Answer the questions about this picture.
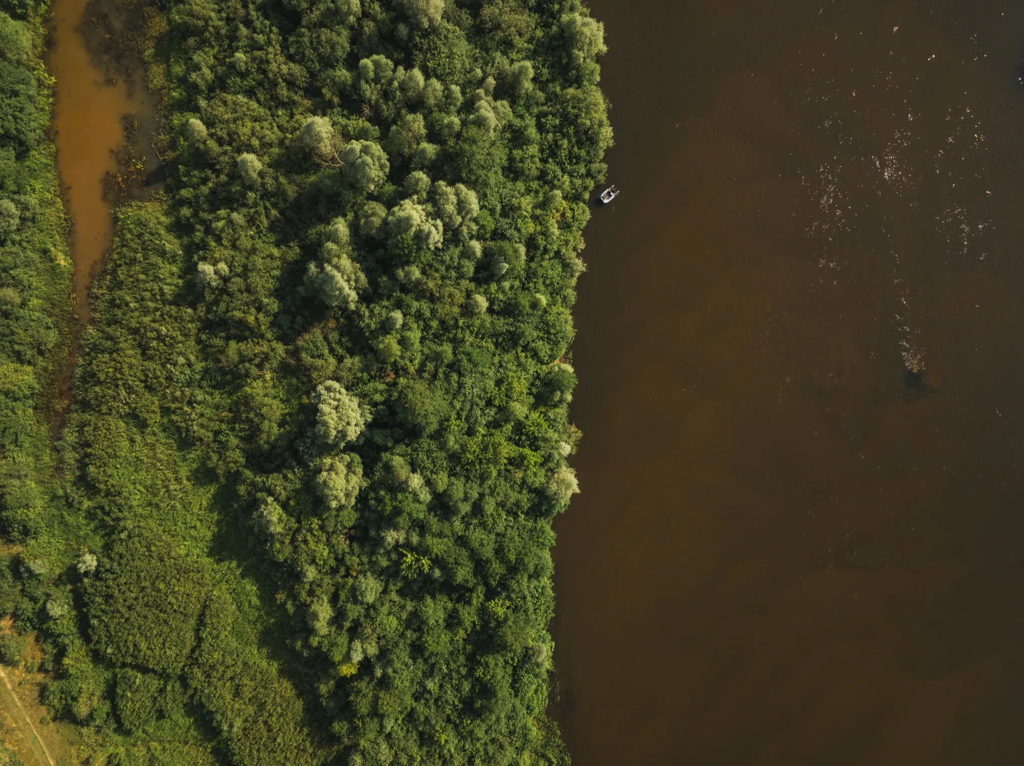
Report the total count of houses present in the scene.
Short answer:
0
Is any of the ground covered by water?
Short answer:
Yes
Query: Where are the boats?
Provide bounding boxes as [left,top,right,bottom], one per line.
[599,183,620,202]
